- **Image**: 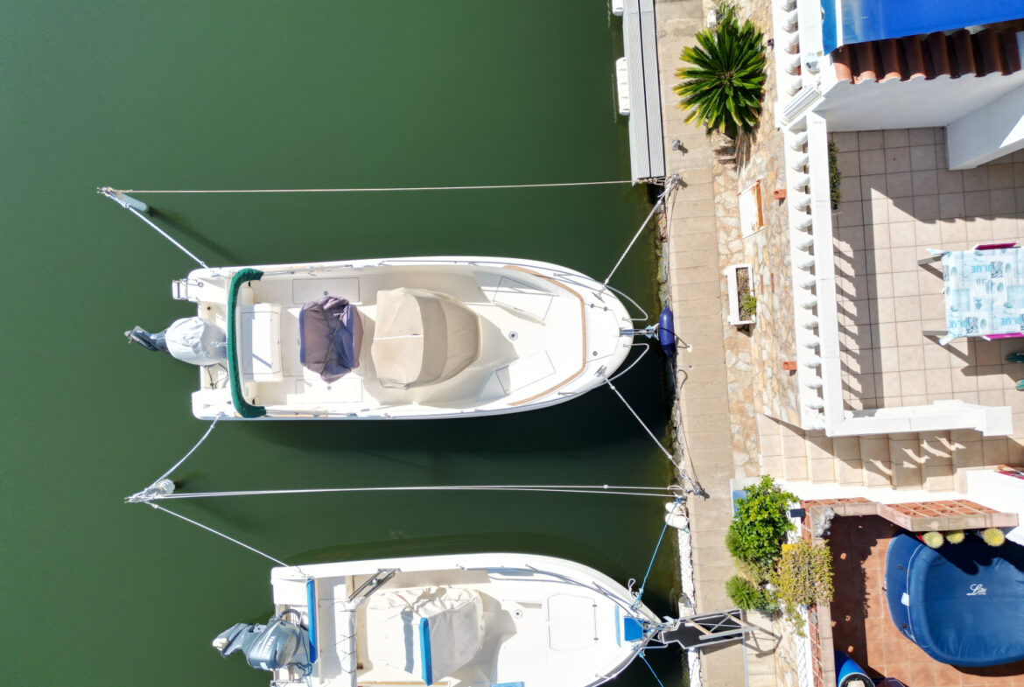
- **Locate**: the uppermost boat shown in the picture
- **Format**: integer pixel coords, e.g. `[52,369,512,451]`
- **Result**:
[123,255,658,421]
